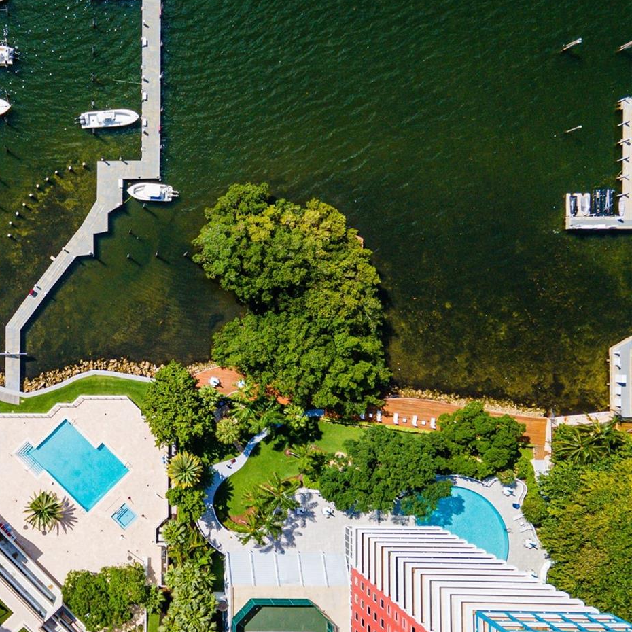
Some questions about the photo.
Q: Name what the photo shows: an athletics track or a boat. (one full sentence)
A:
The image shows a boat.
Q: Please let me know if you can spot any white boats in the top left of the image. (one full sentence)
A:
Yes, I can see a white boat in the top left of the image.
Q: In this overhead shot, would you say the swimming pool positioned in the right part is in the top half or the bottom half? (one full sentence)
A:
It is in the bottom half that the swimming pool positioned in the right part appears.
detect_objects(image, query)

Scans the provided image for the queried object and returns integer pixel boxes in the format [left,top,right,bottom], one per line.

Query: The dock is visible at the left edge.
[5,0,160,396]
